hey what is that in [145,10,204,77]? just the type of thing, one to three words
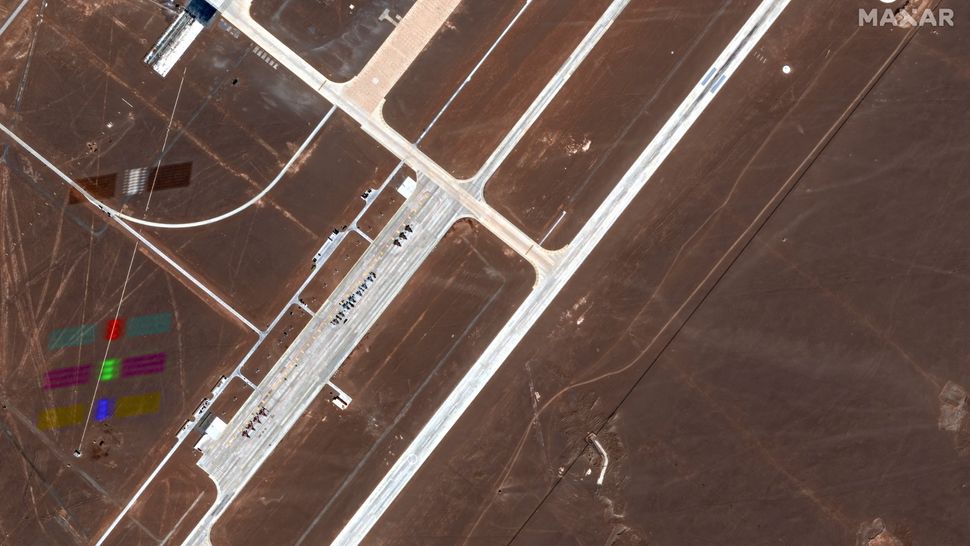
hangar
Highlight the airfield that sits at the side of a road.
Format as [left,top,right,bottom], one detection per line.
[179,0,791,546]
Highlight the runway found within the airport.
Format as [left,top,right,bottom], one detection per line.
[331,0,791,546]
